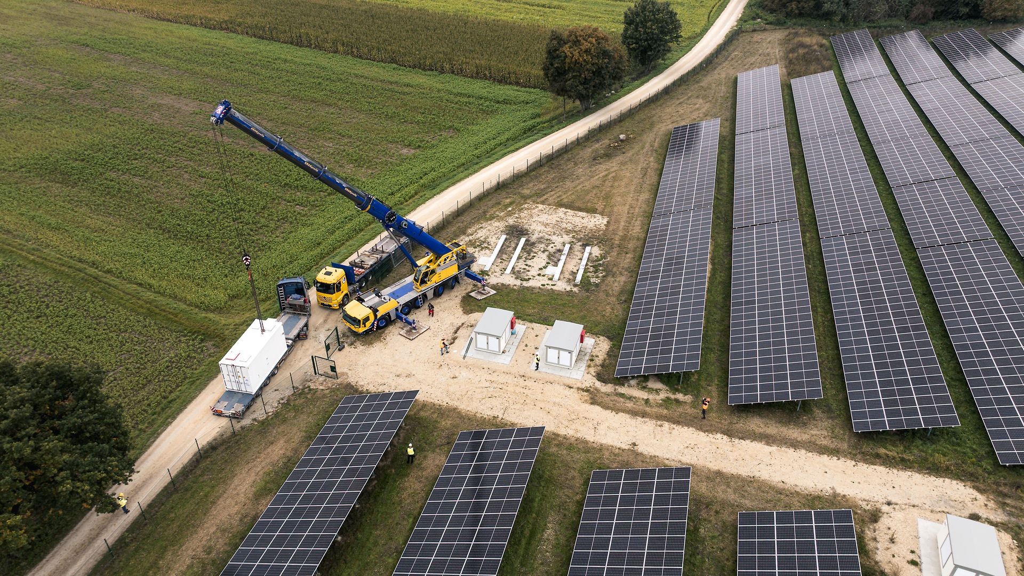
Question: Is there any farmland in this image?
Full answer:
Yes, there's farmland in this view.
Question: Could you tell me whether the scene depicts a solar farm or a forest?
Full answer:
This looks like a solar farm.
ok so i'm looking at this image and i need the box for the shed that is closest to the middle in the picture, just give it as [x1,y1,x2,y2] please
[472,302,517,354]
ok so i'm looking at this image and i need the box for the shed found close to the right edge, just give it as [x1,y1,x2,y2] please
[939,511,1005,576]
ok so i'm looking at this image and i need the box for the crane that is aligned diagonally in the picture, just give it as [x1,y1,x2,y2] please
[208,103,484,336]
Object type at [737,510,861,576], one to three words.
solar array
